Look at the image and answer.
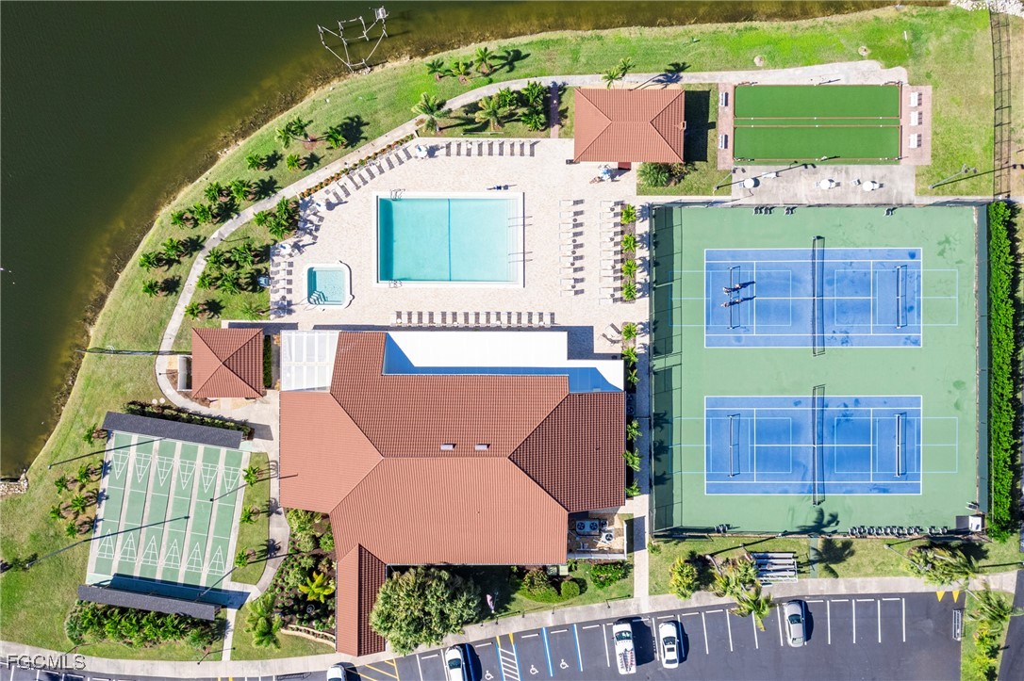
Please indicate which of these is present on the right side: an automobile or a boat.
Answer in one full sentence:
You can see an automobile on the right side.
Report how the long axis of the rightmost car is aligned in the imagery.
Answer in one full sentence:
The rightmost car runs from top to bottom in the image.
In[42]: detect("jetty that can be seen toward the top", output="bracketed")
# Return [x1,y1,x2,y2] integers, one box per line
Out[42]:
[318,6,389,77]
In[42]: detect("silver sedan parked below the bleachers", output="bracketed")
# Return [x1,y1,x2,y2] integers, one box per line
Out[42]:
[782,599,806,648]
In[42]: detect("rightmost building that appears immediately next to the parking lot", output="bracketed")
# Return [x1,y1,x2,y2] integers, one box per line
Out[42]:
[279,330,626,657]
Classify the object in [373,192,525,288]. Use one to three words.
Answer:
swimming pool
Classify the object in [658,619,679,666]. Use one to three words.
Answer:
car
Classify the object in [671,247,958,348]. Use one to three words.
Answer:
tennis court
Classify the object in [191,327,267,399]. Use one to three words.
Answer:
building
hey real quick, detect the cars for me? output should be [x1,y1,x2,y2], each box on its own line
[446,646,468,681]
[782,599,806,648]
[658,619,679,666]
[329,664,348,681]
[612,620,635,672]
